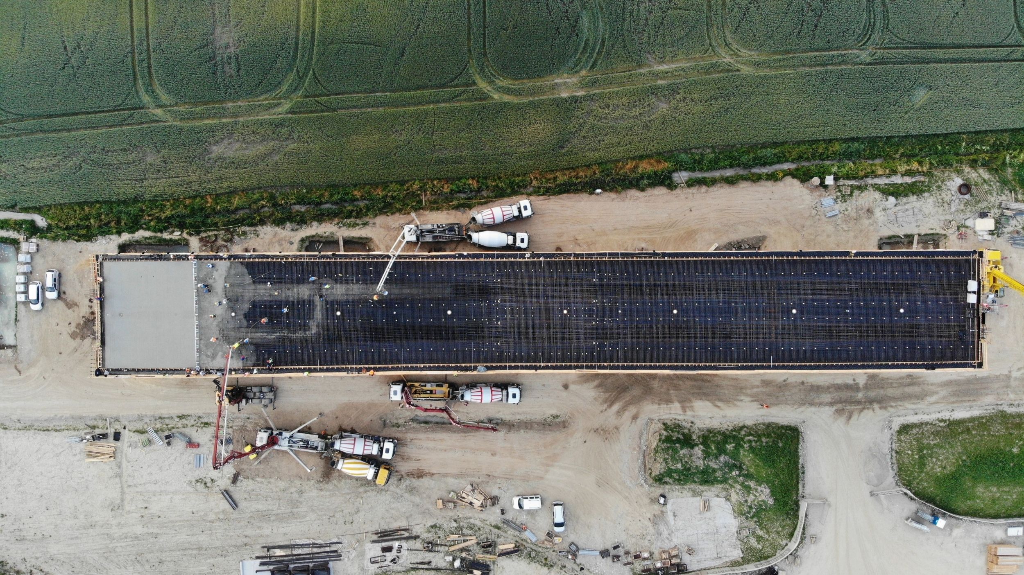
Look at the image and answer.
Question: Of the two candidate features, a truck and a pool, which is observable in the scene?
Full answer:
The image shows a truck.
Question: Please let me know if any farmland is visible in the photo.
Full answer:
Yes, there is farmland in the image.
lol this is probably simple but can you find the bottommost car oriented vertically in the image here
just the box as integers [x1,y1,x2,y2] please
[552,501,567,532]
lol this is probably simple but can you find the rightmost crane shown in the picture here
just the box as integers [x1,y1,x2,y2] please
[976,248,1024,307]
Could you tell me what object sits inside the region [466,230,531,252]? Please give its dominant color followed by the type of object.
white truck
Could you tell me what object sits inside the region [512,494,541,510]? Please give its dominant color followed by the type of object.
white car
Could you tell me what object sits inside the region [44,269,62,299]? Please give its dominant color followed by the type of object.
white car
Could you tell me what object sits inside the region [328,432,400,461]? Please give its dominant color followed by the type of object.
white truck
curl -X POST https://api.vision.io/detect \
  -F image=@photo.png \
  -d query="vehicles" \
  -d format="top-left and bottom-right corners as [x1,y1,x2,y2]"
[211,344,328,473]
[377,212,467,295]
[552,501,567,532]
[330,453,397,487]
[469,197,537,229]
[213,376,278,412]
[44,269,62,299]
[28,281,46,310]
[512,494,541,510]
[466,230,531,252]
[328,432,400,461]
[388,368,497,431]
[457,382,523,403]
